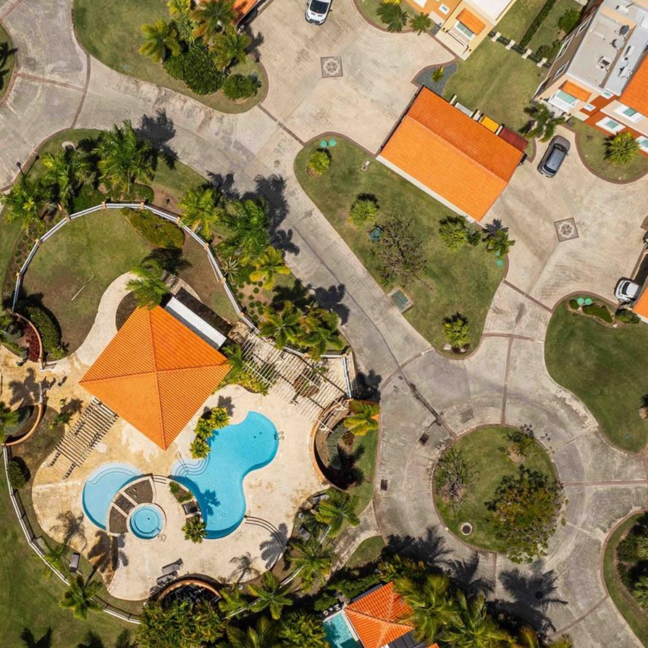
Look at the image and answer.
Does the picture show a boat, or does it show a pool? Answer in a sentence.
I can see a pool in this picture.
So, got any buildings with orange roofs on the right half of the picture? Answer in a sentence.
Yes, a building with an orange roof appears on the right half of the picture.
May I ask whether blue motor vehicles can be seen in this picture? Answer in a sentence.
No, there is no blue motor vehicle in the image.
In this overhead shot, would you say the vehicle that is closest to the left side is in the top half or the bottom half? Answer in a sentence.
The vehicle that is closest to the left side is in the top half of the image.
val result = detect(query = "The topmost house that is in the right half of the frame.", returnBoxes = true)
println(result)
[411,0,511,58]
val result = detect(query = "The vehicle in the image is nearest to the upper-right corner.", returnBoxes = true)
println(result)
[535,132,569,182]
